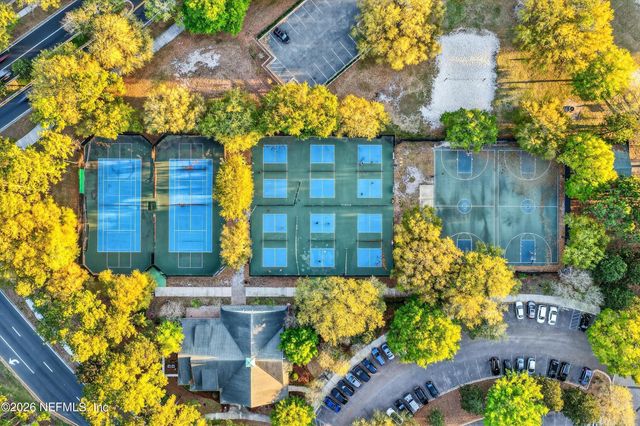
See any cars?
Yes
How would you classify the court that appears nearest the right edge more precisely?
basketball court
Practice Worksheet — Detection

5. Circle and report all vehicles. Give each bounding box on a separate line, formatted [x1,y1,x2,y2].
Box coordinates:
[536,304,547,324]
[579,312,593,330]
[414,385,429,405]
[548,358,559,377]
[361,356,378,374]
[526,299,536,319]
[547,305,558,325]
[273,27,291,44]
[352,365,370,383]
[345,371,362,389]
[503,355,513,375]
[16,92,31,107]
[369,345,388,367]
[489,355,500,375]
[558,360,569,380]
[323,396,341,412]
[515,354,524,373]
[526,355,536,374]
[331,387,349,405]
[424,379,439,399]
[386,406,402,425]
[402,391,420,414]
[514,300,524,319]
[579,365,592,385]
[338,379,356,396]
[393,397,409,417]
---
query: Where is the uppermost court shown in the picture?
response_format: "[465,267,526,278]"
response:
[421,29,498,127]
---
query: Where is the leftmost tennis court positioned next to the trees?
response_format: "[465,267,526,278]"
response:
[84,139,154,273]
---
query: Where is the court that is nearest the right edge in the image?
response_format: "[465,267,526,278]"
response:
[497,149,559,264]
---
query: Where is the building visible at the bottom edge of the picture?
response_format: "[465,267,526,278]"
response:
[177,305,289,410]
